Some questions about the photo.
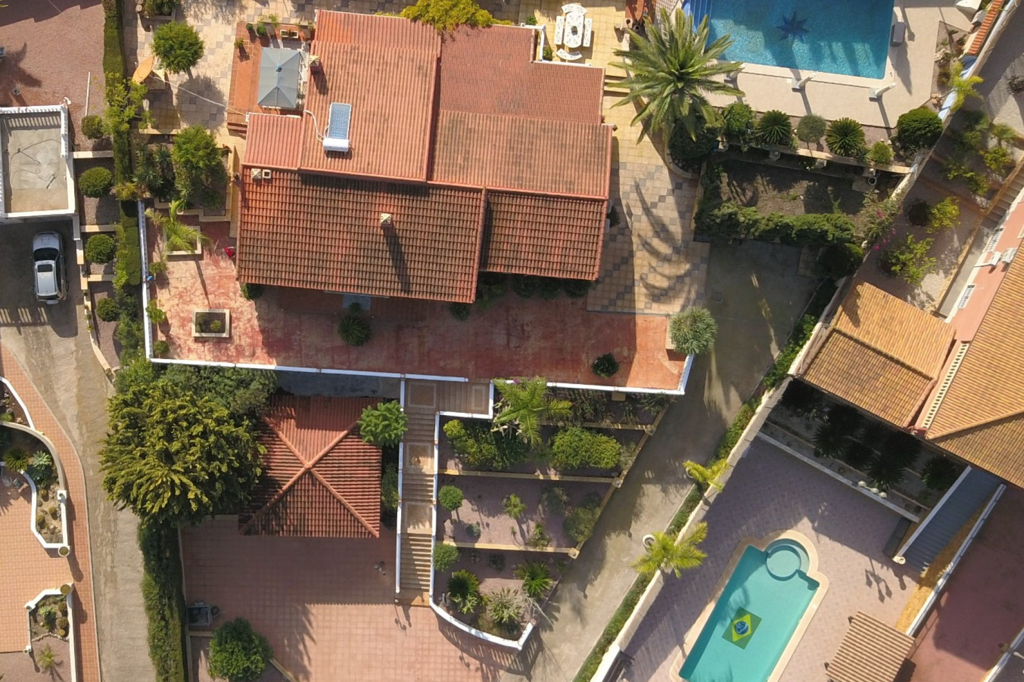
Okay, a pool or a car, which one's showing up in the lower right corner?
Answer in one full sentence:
There is a pool in the lower right corner.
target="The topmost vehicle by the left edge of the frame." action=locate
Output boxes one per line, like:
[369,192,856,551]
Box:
[31,235,70,306]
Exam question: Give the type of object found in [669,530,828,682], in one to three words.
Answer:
swimming pool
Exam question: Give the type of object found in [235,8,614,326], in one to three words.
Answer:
house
